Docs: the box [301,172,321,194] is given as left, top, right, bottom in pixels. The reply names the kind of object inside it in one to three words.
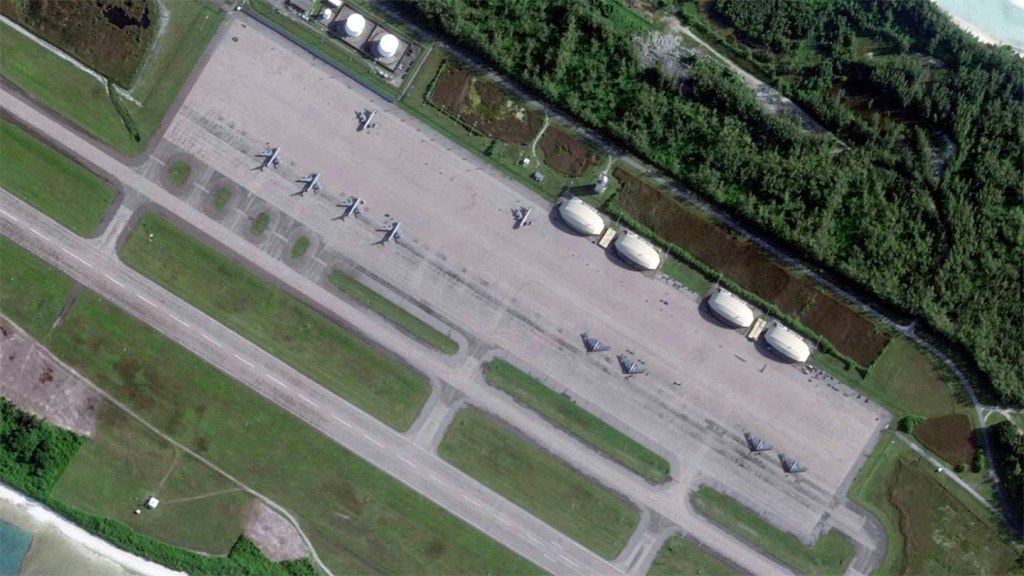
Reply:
airplane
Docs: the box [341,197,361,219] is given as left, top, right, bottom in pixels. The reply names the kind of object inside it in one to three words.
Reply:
airplane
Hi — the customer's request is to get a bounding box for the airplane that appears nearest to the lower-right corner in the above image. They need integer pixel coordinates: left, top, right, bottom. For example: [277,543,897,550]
[783,452,808,471]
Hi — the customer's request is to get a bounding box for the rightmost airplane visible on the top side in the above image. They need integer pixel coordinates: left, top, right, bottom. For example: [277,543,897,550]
[518,204,538,226]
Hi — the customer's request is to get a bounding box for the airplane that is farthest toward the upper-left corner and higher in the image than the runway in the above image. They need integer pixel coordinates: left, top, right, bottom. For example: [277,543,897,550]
[261,147,281,170]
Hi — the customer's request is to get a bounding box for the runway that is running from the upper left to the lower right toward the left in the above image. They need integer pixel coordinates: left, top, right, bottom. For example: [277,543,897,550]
[0,188,627,576]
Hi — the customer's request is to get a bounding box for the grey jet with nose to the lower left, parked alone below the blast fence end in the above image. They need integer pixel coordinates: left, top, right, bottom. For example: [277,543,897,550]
[361,106,382,129]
